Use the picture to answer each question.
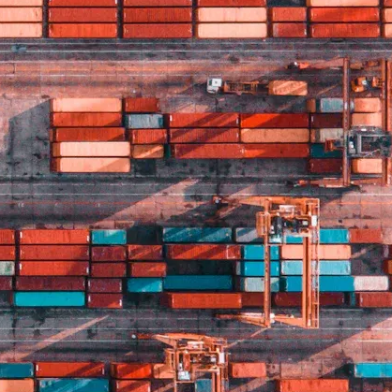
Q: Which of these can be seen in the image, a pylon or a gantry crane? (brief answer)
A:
gantry crane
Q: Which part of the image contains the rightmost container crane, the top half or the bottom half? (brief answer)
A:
top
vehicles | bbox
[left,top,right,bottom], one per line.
[349,76,379,93]
[206,77,267,96]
